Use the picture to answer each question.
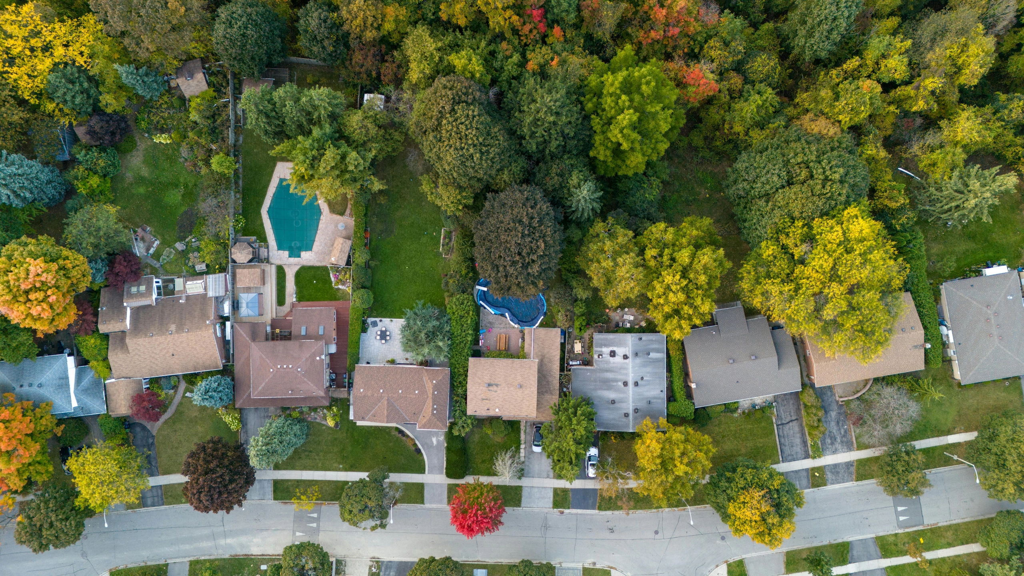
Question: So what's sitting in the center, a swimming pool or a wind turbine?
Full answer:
What appears in the center is a swimming pool.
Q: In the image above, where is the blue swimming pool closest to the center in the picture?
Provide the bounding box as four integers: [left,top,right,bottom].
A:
[475,276,547,329]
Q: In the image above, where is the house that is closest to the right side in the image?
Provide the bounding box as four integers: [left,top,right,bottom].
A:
[936,265,1024,385]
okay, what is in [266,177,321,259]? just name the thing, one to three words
swimming pool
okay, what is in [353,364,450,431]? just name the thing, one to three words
house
